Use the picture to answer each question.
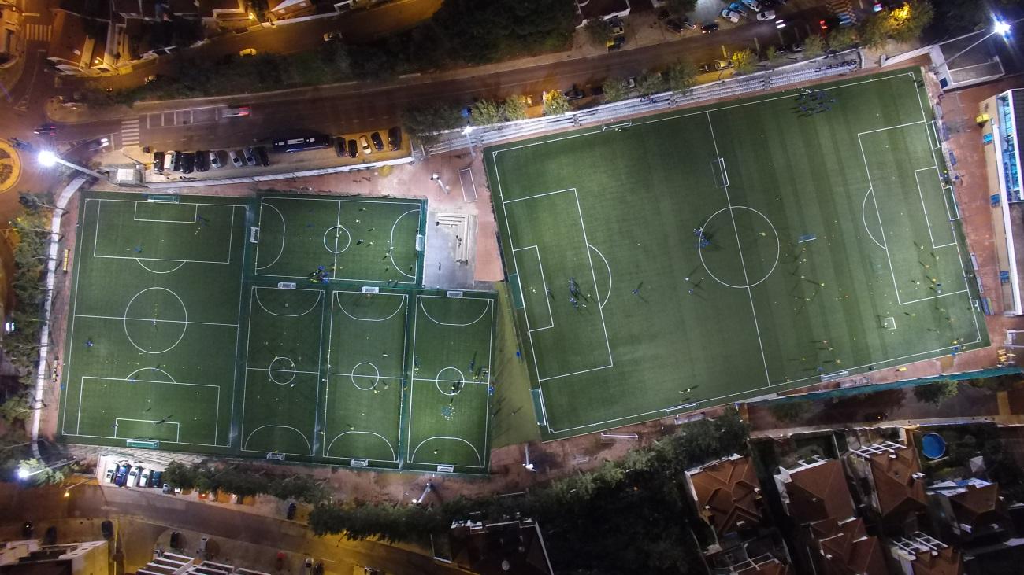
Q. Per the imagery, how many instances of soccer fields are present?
six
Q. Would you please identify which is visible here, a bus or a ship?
bus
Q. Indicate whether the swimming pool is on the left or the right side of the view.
right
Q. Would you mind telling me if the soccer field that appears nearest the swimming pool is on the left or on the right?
right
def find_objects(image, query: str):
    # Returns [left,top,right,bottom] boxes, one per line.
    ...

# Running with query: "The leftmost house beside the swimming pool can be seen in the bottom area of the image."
[841,429,929,516]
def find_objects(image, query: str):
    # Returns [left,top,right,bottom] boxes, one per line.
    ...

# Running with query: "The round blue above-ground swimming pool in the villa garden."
[921,433,949,460]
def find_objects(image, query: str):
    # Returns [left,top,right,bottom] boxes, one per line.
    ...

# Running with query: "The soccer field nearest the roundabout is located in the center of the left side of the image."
[58,190,254,458]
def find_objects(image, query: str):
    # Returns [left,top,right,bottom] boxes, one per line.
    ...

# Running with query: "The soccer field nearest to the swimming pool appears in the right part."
[484,66,991,444]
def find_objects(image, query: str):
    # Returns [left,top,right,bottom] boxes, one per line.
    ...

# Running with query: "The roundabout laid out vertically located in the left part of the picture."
[0,139,21,192]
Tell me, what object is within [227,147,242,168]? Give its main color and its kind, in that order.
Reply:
gray car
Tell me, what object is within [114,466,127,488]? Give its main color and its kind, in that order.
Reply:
blue vehicle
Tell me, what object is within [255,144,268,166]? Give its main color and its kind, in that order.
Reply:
black vehicle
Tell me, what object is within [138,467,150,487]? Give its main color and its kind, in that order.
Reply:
white vehicle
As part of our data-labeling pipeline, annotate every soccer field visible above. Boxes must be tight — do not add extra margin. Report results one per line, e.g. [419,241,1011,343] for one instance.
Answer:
[318,286,413,470]
[58,190,254,458]
[251,194,427,287]
[404,288,497,475]
[239,284,329,463]
[484,66,991,444]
